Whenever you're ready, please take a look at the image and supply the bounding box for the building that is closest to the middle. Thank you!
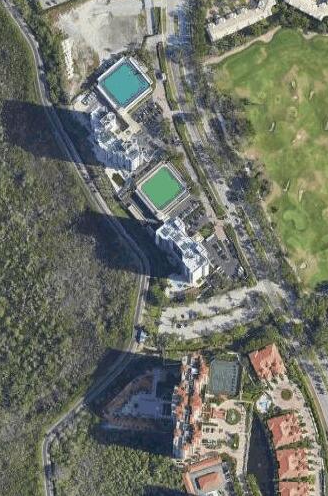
[154,217,209,284]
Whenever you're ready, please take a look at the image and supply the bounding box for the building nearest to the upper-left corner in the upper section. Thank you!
[97,57,152,111]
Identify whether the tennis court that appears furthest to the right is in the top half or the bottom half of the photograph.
bottom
